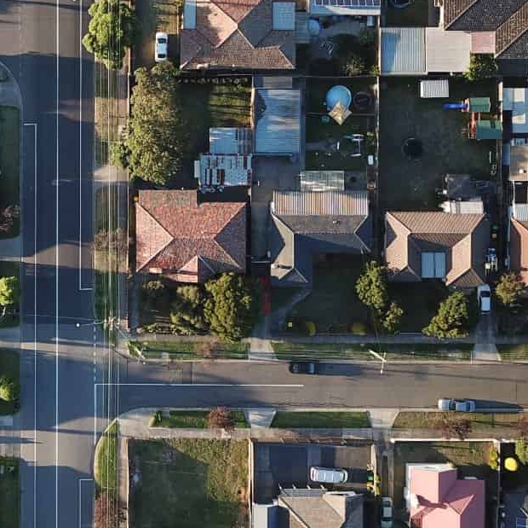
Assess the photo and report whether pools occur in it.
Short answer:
Yes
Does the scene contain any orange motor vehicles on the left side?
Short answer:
No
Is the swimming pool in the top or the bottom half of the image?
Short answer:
top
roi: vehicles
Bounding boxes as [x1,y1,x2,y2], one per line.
[153,31,171,63]
[309,466,348,484]
[475,289,492,315]
[286,359,317,375]
[437,395,474,413]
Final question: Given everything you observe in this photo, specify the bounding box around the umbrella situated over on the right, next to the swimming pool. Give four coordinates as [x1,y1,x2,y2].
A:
[327,101,350,125]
